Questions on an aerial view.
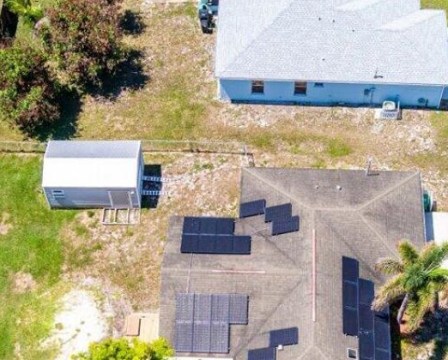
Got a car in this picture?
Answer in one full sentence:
No, there is no car in the image.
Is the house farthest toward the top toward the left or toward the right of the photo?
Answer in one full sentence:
You can find the house farthest toward the top on the right side of the picture.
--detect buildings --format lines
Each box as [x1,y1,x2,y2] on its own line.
[203,0,448,108]
[41,139,146,210]
[158,161,437,360]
